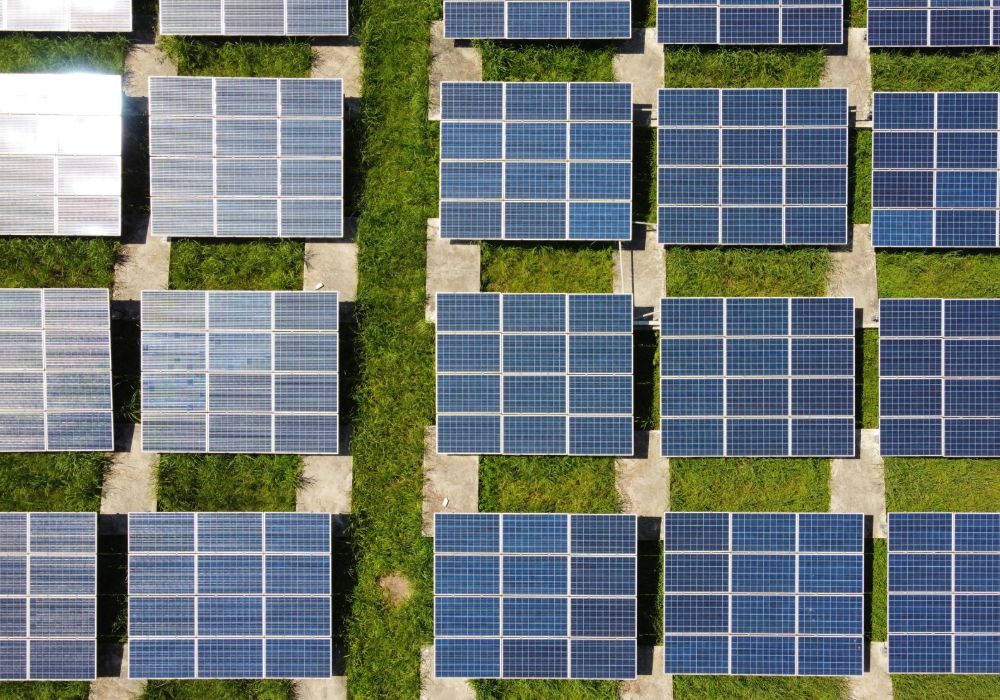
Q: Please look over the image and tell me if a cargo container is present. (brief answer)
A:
No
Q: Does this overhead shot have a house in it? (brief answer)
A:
No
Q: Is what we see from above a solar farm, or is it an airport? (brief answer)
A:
solar farm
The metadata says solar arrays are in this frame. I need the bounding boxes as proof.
[868,298,1000,457]
[0,290,118,452]
[437,293,634,454]
[661,512,864,676]
[439,82,632,240]
[656,298,854,457]
[876,512,1000,675]
[160,0,349,39]
[656,0,843,47]
[0,514,108,679]
[0,77,133,235]
[128,513,334,678]
[142,291,341,452]
[862,0,1000,50]
[443,0,632,43]
[654,88,848,244]
[0,0,138,35]
[149,78,345,235]
[862,92,1000,248]
[435,514,638,679]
